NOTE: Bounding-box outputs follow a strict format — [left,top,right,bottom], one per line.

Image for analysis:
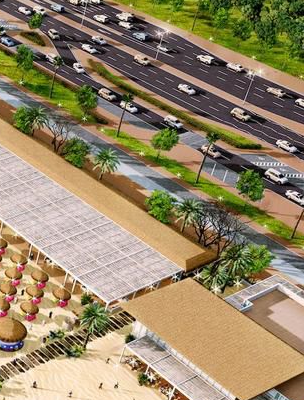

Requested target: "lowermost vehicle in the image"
[281,188,304,204]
